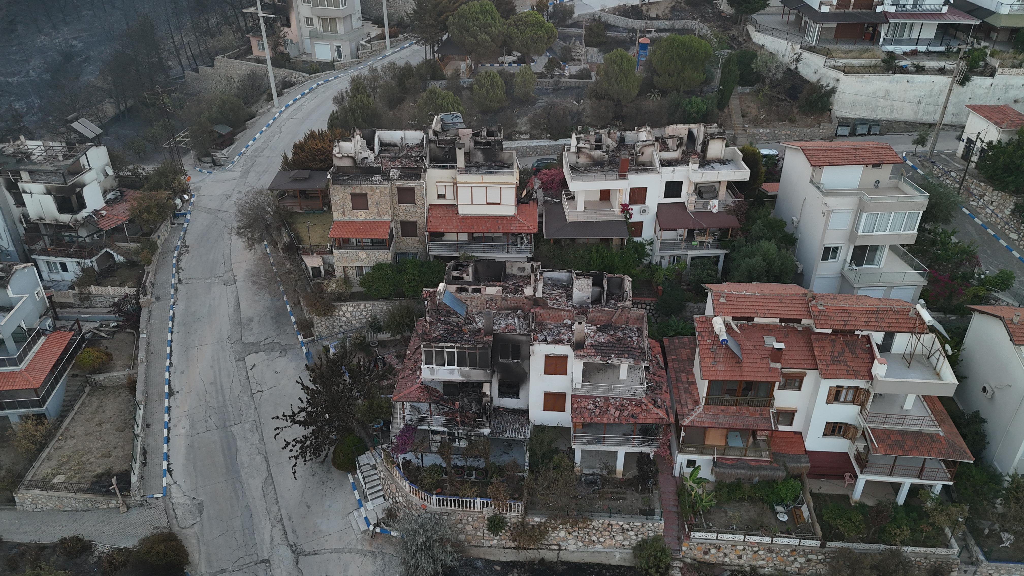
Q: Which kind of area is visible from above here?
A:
residential area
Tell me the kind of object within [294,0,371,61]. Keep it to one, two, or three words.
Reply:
house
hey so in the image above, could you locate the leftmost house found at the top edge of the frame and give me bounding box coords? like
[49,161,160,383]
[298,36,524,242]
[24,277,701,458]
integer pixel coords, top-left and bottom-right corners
[238,0,302,57]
